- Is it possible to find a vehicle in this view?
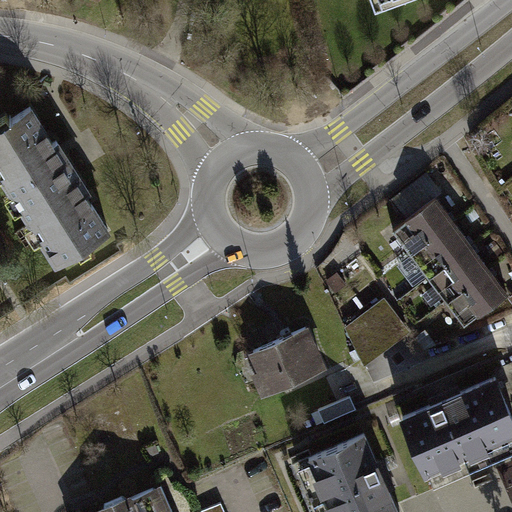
Yes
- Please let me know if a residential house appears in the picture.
Yes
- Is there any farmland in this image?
No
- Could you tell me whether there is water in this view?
No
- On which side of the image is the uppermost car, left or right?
right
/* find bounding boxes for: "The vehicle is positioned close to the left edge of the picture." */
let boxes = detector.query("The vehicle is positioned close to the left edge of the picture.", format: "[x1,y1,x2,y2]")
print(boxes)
[16,374,37,391]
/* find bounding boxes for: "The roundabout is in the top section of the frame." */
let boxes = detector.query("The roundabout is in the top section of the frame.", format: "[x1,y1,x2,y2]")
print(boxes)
[191,130,329,268]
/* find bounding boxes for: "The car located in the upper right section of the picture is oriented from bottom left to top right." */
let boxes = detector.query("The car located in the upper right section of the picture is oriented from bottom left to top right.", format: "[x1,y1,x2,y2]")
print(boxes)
[412,102,434,122]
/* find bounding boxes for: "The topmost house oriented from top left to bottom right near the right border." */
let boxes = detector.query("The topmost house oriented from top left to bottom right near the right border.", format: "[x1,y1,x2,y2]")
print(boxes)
[393,198,508,329]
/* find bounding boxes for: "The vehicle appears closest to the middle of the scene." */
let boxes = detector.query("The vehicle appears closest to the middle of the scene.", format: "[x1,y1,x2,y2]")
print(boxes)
[226,250,244,264]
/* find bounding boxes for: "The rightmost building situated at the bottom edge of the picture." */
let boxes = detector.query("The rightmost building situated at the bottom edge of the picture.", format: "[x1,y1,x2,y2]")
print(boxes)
[400,373,512,492]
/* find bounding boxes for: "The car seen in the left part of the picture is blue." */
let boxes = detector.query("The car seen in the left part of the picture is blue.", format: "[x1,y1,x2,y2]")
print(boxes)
[104,318,128,336]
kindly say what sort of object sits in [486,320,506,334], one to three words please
car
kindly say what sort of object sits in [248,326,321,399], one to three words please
house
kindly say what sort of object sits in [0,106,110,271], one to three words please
building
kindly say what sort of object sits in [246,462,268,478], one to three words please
car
